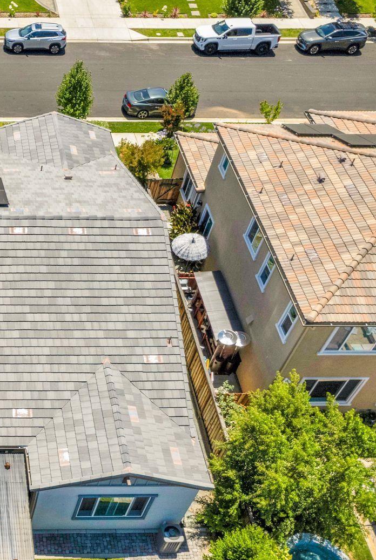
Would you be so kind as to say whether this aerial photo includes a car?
Yes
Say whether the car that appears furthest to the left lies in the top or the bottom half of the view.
top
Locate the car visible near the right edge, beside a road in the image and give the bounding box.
[293,16,373,53]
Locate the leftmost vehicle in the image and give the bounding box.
[1,17,70,52]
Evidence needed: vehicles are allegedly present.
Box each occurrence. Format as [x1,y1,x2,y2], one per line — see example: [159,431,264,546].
[293,16,373,53]
[188,14,285,54]
[1,17,70,52]
[118,83,202,118]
